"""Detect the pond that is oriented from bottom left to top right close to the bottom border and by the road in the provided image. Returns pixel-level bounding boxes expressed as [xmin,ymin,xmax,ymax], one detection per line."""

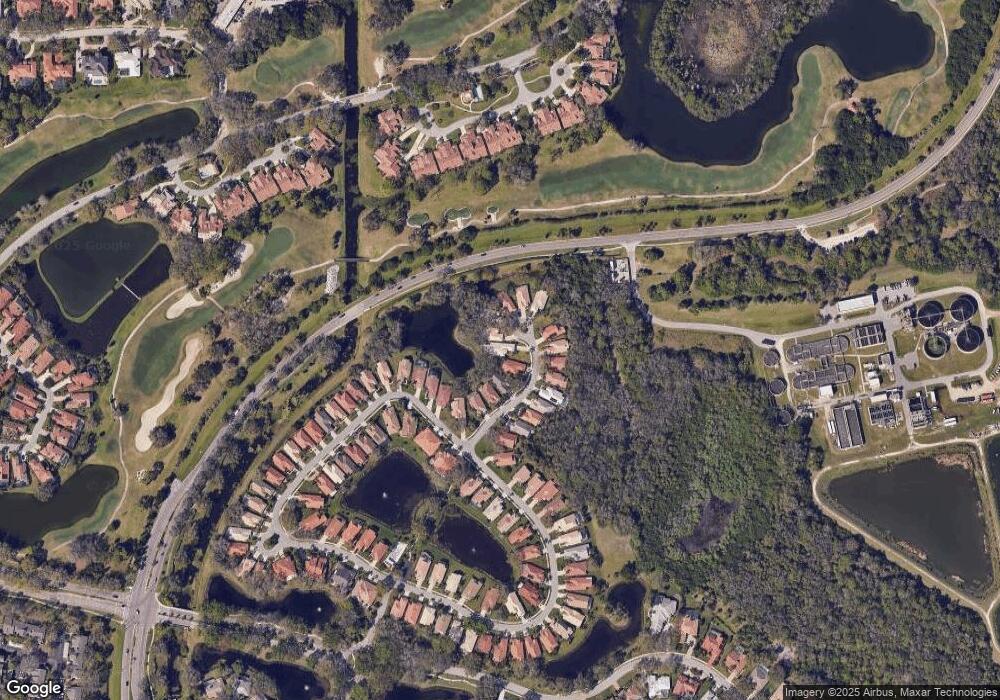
[546,580,645,680]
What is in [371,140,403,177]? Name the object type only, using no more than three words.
house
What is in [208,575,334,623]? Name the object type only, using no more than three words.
pond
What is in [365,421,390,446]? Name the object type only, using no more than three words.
house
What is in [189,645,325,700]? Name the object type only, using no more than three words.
pond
